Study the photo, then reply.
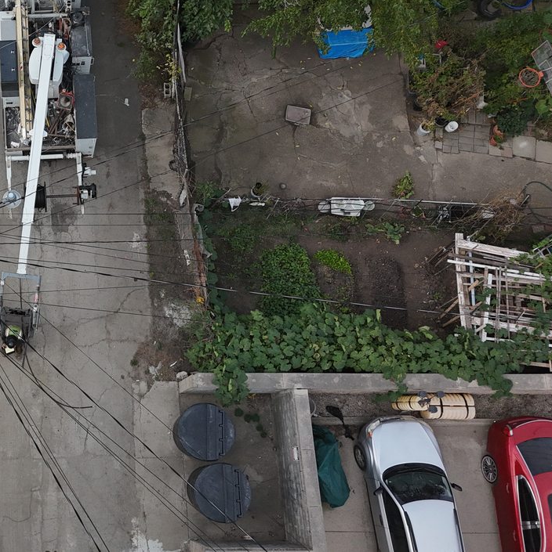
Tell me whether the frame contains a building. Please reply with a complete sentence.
No, the photo shows no building.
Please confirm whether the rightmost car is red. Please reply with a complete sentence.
Yes, the rightmost car appears red.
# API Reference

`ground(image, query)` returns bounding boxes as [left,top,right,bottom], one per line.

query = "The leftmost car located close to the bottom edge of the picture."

[356,415,473,552]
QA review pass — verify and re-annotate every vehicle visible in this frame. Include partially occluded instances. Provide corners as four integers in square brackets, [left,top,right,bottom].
[482,415,552,552]
[0,0,98,374]
[356,415,473,552]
